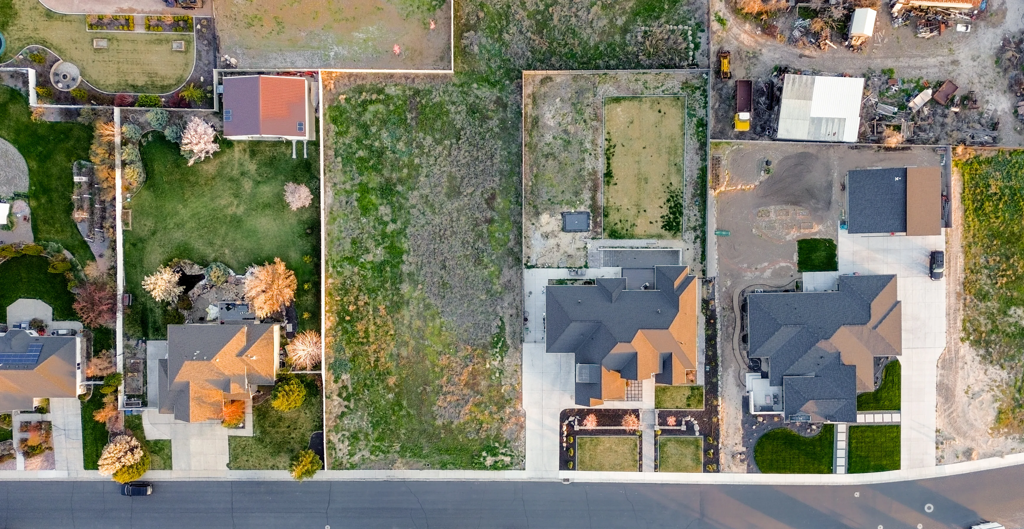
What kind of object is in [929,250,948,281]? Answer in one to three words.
car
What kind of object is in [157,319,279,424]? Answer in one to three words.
house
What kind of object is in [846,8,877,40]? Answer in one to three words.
shed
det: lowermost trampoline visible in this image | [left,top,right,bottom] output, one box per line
[562,212,590,232]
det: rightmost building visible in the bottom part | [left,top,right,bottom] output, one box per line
[743,274,902,423]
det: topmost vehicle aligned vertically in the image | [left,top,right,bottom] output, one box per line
[719,50,732,80]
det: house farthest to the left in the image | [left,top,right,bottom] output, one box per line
[0,325,88,412]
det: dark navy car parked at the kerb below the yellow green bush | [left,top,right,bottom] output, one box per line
[120,483,153,500]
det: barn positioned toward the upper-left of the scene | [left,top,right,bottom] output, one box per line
[222,75,308,140]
